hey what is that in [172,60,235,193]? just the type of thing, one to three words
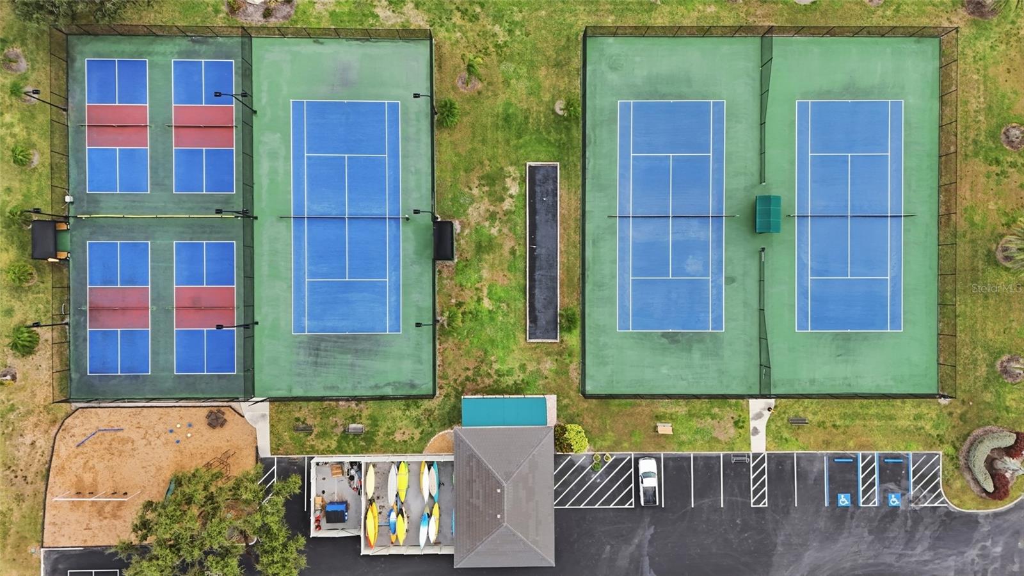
sports court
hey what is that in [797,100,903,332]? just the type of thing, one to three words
tennis court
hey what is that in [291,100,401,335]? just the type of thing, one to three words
tennis court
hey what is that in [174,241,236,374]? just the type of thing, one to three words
sports court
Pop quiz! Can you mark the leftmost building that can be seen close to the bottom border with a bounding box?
[453,426,555,568]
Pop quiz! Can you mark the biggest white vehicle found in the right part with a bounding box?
[638,456,661,508]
